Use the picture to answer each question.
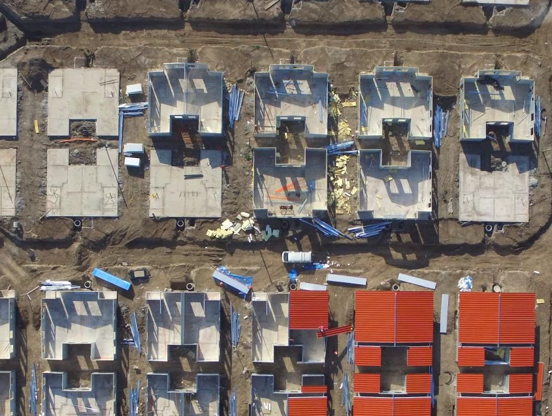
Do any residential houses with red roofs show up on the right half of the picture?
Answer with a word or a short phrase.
Yes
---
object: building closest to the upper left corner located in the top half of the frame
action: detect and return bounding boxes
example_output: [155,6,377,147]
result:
[148,63,220,138]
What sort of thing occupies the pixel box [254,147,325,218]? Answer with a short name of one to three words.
house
